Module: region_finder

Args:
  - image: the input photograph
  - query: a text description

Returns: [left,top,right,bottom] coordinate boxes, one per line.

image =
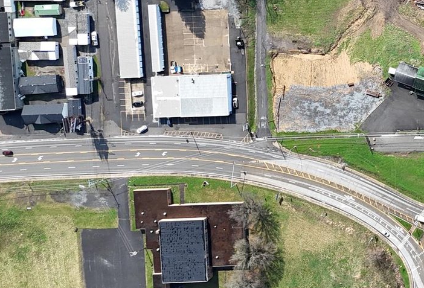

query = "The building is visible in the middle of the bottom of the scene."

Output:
[134,189,247,288]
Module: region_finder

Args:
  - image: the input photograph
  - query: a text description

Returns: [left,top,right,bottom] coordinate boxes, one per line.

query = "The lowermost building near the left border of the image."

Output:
[19,100,85,124]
